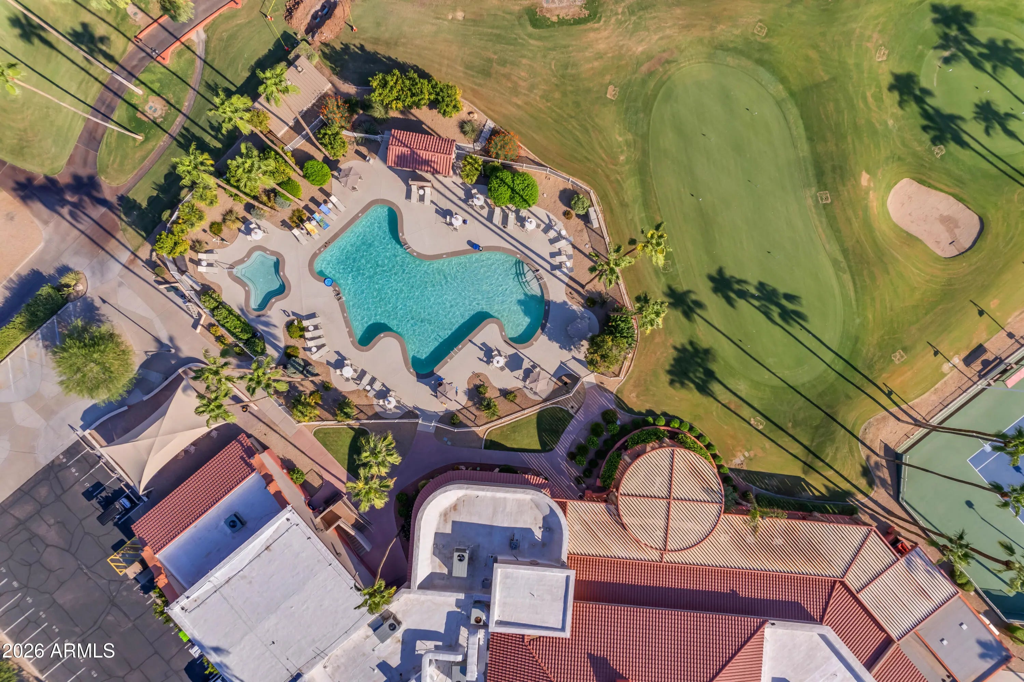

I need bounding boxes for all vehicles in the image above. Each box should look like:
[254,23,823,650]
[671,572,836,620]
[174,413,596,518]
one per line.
[188,647,201,661]
[98,495,136,525]
[125,556,151,580]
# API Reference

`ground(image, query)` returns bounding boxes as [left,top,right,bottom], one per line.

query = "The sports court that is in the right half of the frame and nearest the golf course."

[902,354,1024,623]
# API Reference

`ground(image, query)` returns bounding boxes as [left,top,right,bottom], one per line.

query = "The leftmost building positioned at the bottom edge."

[130,434,380,682]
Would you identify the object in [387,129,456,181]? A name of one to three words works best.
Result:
shed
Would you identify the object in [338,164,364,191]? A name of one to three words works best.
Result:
umbrella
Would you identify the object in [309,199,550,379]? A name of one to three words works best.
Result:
swimming pool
